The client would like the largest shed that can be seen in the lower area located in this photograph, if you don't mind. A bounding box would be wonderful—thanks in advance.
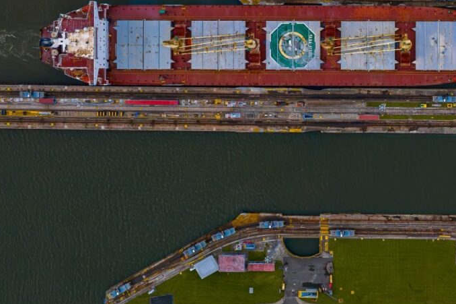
[218,254,246,273]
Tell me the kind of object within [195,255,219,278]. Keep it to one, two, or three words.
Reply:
shed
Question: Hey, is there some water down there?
Yes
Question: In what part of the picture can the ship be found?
top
